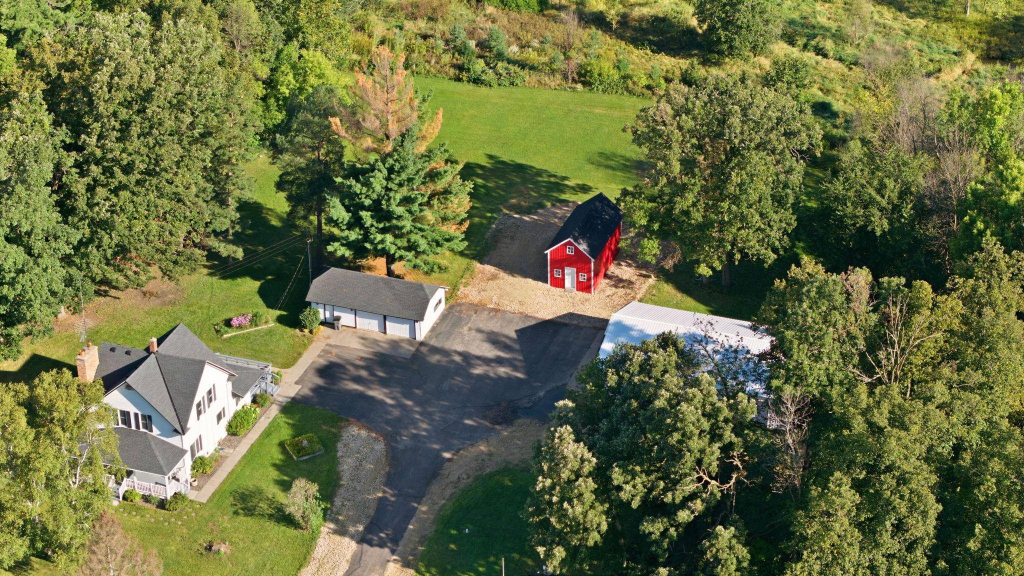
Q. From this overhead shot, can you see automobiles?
No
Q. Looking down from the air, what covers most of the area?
trees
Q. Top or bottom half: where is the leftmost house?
bottom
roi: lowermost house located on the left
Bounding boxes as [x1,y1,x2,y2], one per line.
[75,321,286,501]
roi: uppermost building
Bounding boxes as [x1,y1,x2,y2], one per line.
[545,193,625,295]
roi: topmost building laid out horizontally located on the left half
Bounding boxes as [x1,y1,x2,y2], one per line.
[307,264,450,340]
